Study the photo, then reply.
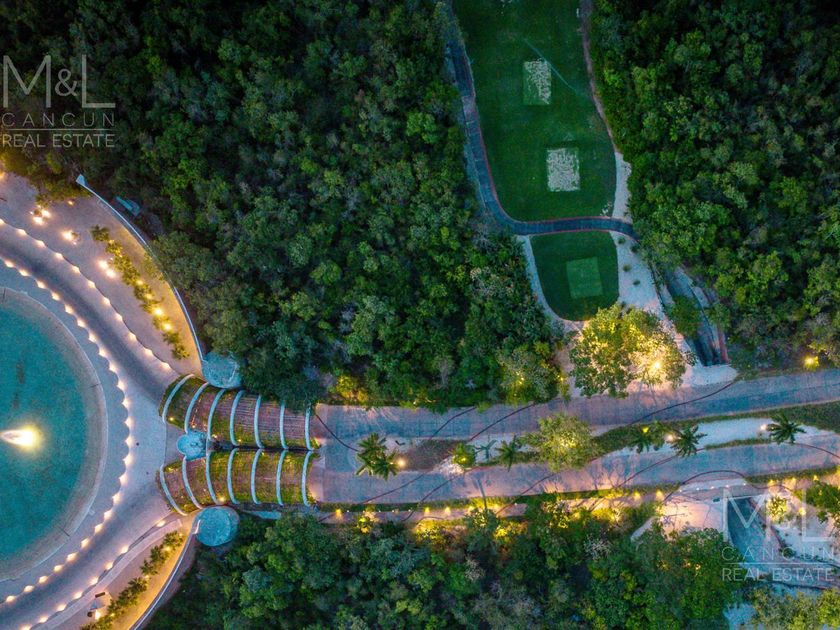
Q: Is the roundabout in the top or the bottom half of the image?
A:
bottom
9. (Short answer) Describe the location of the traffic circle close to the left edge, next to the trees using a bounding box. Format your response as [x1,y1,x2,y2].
[0,222,171,630]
